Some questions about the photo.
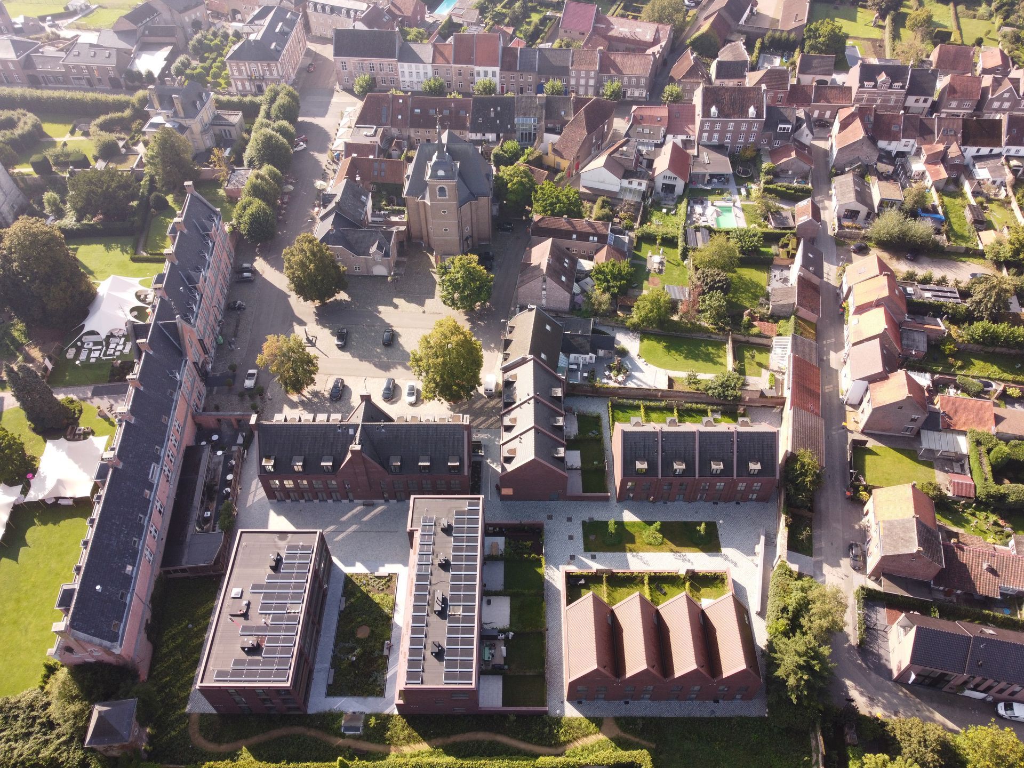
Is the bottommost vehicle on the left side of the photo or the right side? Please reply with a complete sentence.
The bottommost vehicle is on the right side of the image.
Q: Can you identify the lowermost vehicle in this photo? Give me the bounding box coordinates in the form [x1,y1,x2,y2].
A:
[991,699,1024,721]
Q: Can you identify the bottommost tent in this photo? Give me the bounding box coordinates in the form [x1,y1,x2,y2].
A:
[0,484,32,554]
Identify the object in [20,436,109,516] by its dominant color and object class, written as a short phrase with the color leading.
white tent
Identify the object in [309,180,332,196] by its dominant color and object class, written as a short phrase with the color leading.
white umbrella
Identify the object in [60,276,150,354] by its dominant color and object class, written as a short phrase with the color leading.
white tent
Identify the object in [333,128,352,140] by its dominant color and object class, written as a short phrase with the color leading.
white umbrella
